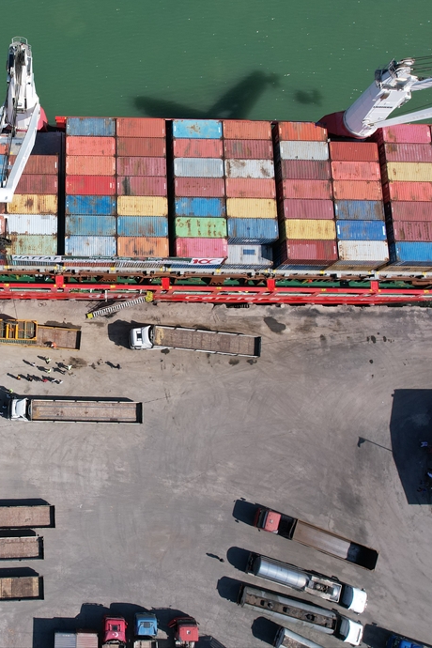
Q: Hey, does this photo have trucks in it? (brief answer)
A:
Yes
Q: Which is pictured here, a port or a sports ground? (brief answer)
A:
port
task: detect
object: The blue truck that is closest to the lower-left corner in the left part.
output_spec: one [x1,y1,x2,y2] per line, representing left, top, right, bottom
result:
[133,608,160,648]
